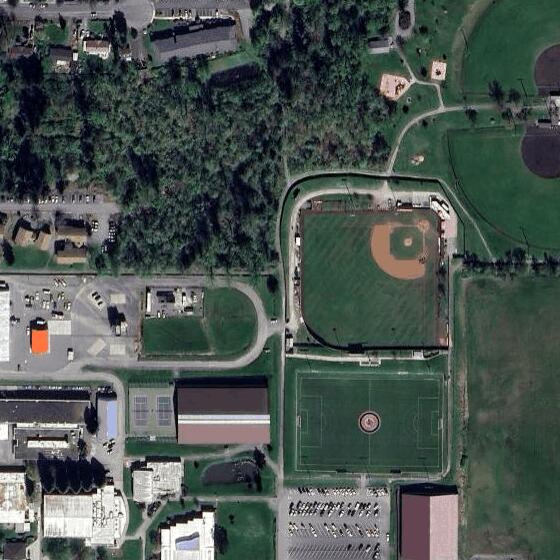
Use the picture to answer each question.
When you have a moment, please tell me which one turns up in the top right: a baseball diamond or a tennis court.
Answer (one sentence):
There is a baseball diamond in the top right.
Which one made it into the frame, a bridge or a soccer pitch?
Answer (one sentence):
The one in the frame is a soccer pitch.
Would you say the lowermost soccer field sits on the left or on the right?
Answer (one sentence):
It is on the right.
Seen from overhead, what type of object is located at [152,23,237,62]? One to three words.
building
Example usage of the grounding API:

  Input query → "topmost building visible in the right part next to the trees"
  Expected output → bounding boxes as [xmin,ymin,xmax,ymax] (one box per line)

[368,37,390,52]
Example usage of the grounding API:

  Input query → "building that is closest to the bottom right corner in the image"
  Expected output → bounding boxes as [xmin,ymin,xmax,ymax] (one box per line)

[403,490,458,560]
